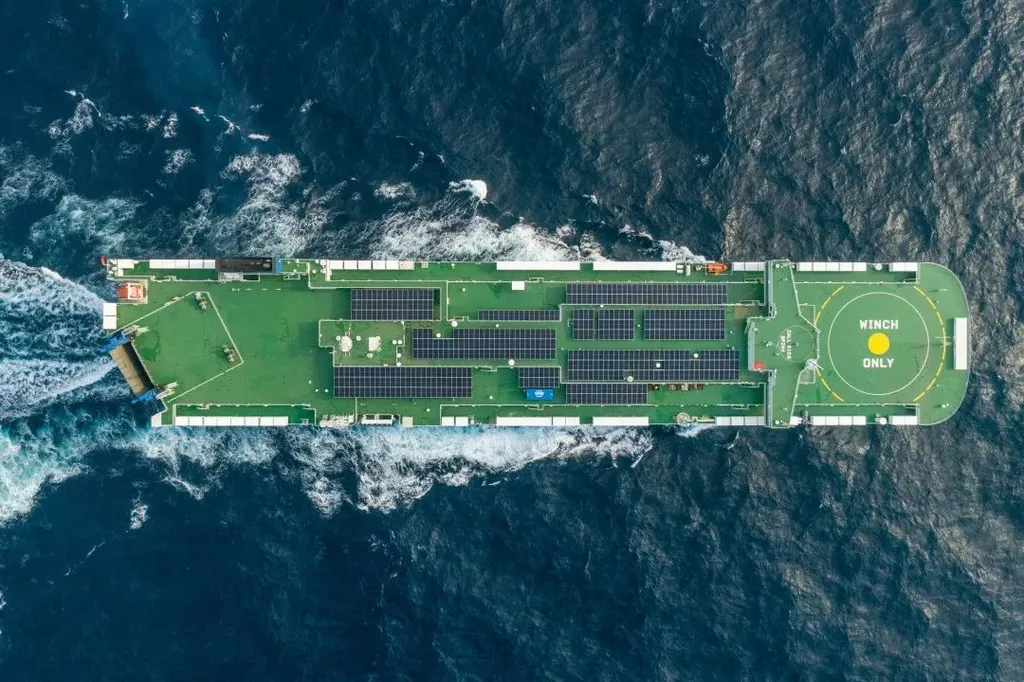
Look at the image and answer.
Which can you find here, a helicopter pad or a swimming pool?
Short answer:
helicopter pad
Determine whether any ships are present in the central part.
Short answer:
Yes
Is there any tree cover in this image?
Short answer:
No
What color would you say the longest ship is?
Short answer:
green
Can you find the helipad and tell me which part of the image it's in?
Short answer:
right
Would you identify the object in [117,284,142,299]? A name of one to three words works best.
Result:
boat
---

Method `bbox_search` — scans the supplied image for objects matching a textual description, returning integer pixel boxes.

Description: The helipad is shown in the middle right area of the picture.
[814,284,948,403]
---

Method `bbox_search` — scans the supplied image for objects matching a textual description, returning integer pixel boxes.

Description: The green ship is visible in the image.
[102,257,971,428]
